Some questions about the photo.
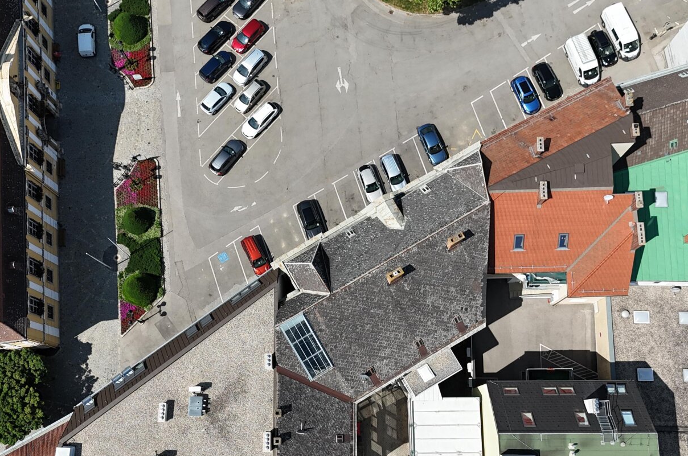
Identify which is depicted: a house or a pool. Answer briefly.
house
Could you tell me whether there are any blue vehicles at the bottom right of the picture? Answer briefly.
No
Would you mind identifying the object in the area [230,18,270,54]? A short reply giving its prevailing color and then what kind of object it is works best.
red car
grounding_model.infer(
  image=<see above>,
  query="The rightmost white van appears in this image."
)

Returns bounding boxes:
[599,0,641,62]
